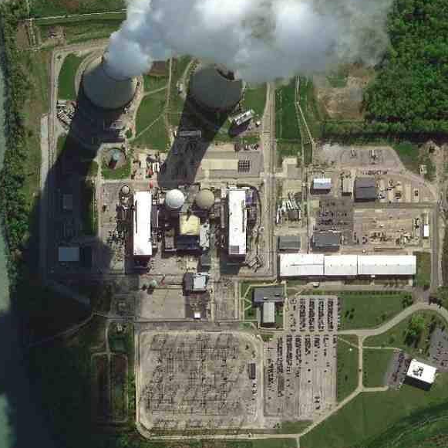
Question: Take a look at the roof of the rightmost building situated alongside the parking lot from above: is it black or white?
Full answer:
In this view, the roof of the rightmost building situated alongside the parking lot is white.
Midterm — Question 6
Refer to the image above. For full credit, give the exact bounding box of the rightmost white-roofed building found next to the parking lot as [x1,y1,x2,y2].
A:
[357,255,416,275]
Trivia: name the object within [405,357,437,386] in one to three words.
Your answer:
building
